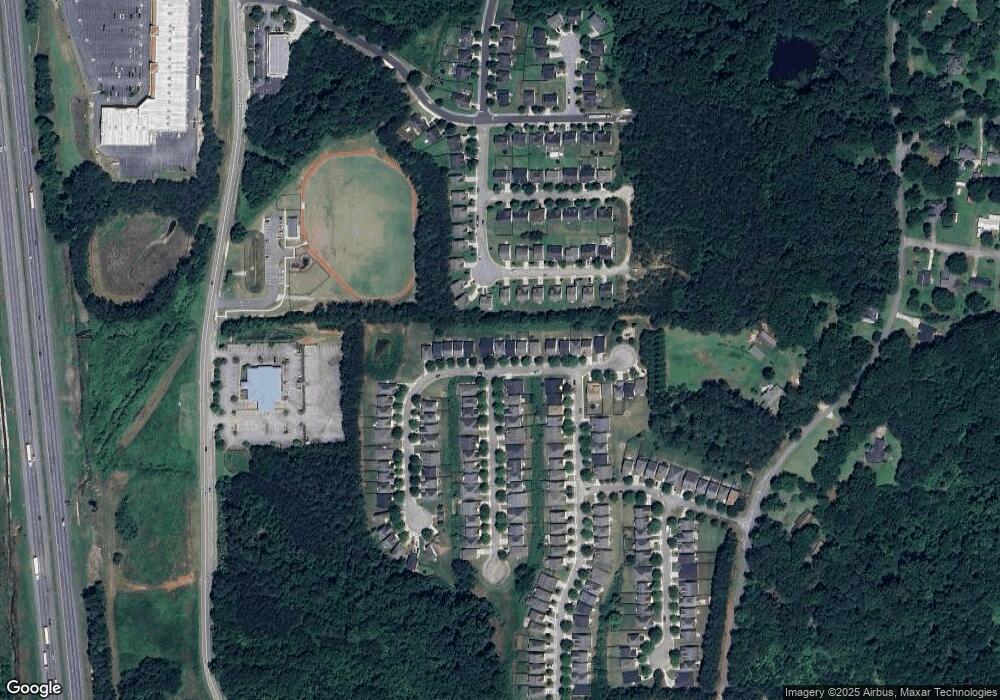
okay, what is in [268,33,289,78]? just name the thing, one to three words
building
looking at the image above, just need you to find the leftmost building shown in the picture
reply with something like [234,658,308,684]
[100,0,189,145]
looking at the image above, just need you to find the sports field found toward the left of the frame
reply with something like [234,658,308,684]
[300,149,416,302]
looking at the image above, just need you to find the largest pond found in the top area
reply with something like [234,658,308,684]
[769,36,816,82]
